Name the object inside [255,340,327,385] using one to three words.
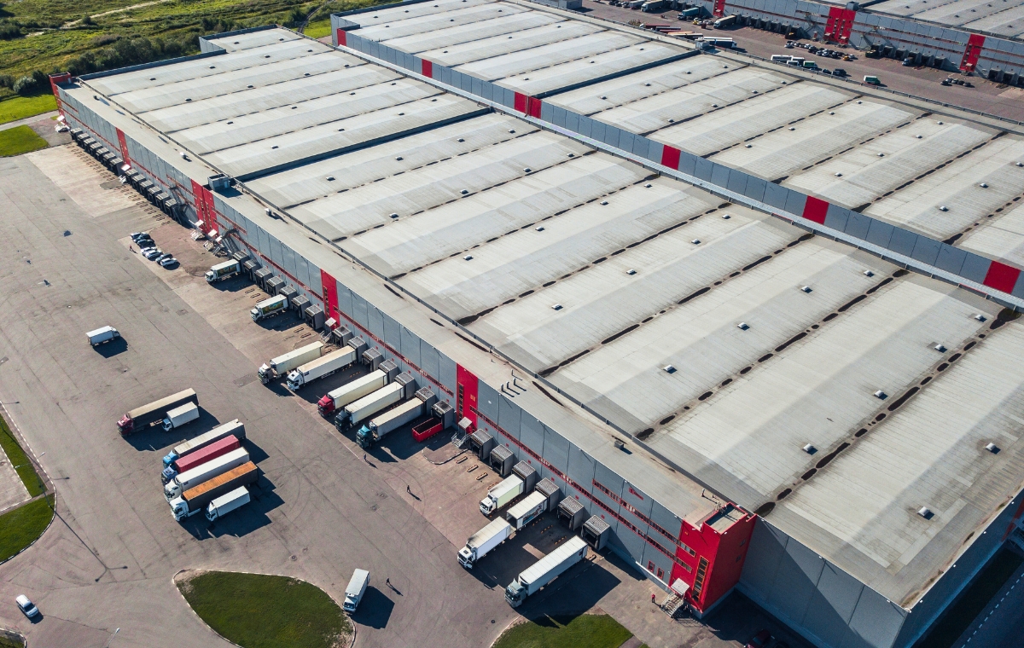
truck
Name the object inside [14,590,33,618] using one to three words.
vehicle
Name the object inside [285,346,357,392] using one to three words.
truck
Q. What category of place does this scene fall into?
industrial area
